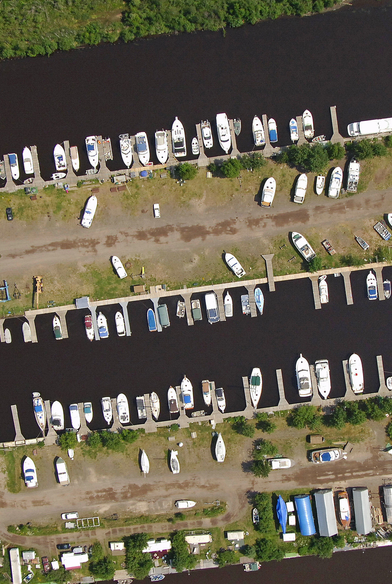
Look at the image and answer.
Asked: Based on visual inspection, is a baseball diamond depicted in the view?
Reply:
No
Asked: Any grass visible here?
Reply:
Yes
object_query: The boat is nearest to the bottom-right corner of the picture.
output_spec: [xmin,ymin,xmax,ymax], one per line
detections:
[337,491,352,529]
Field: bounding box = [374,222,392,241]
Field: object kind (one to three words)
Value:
boat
